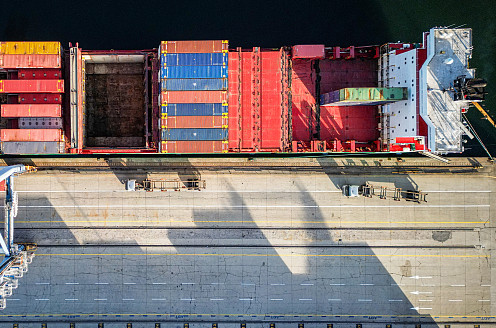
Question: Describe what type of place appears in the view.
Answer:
port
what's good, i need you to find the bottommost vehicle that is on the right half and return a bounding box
[341,182,426,199]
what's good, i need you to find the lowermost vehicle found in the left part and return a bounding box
[127,179,205,191]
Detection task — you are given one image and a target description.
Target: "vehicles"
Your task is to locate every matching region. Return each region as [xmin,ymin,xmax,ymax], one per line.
[127,179,205,191]
[341,182,426,199]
